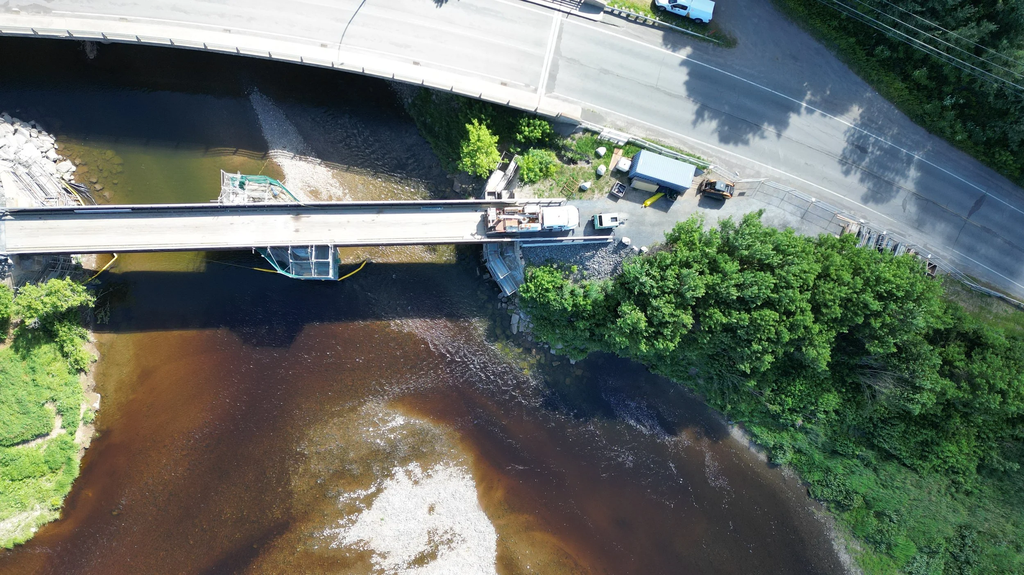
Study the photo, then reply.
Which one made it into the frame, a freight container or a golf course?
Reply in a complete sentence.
Visible in the photo is a freight container.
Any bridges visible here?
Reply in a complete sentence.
Yes, you can see a bridge in this photo.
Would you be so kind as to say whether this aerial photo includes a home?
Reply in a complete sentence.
No, no home is visible in the view.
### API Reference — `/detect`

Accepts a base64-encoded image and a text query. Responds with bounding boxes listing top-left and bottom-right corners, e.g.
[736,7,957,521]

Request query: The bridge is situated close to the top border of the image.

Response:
[0,0,607,127]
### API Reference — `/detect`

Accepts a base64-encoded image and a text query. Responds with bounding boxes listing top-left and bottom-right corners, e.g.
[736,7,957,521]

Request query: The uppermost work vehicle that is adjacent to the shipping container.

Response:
[695,177,736,204]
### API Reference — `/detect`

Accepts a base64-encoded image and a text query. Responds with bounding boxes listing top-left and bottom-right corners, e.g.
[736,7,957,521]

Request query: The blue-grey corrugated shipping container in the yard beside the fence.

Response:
[630,149,705,191]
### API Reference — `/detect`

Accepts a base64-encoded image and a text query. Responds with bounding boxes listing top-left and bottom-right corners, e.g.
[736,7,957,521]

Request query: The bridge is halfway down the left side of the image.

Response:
[0,195,525,258]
